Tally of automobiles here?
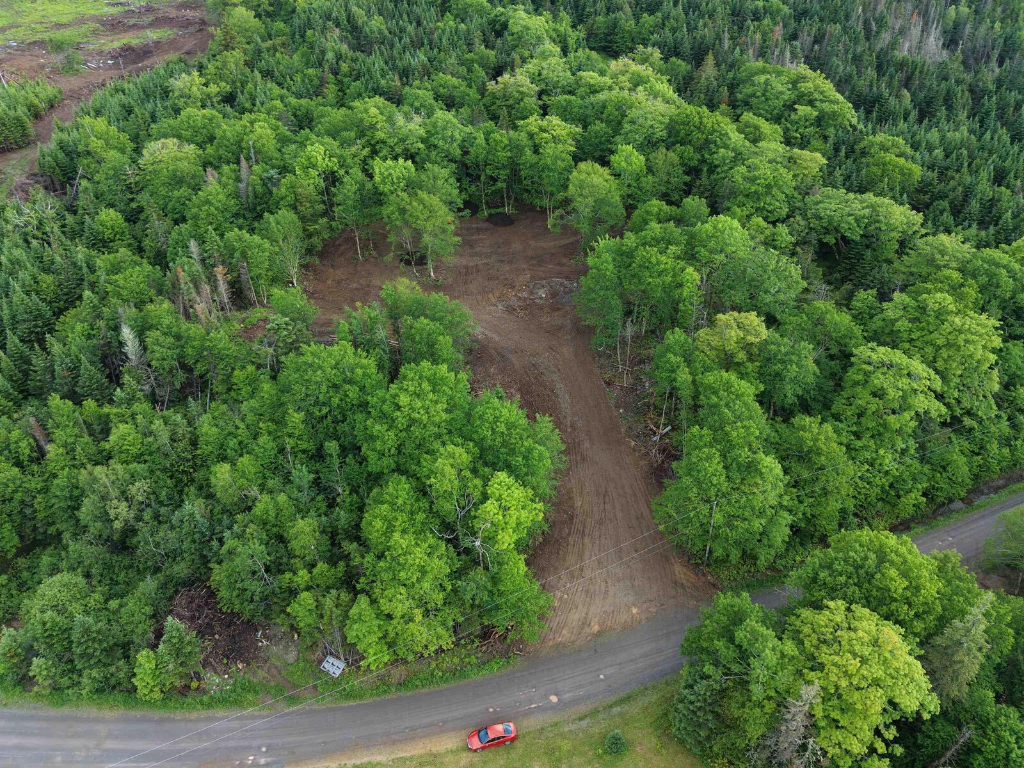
1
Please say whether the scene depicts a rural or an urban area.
rural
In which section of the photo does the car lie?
bottom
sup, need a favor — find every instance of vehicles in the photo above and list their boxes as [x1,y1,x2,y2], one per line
[466,720,517,753]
